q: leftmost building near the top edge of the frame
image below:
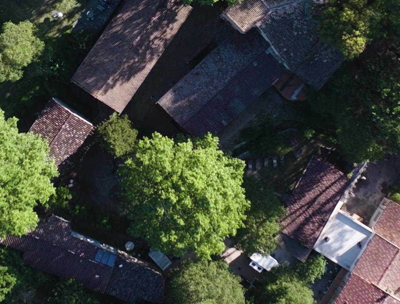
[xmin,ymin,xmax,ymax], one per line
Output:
[76,0,192,114]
